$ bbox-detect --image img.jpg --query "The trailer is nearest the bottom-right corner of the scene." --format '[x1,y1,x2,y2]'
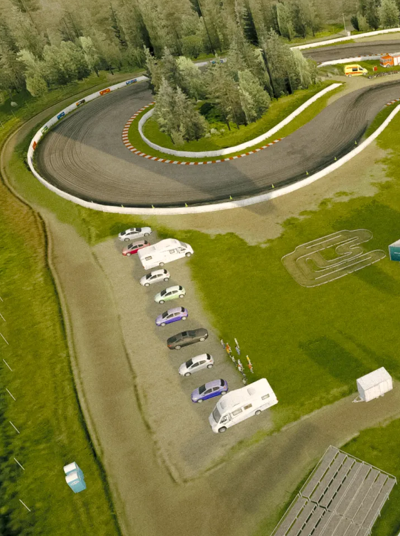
[351,366,394,404]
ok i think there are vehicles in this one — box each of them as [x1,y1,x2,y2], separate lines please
[120,239,151,256]
[141,237,196,266]
[119,228,152,241]
[177,352,216,377]
[155,306,190,326]
[154,284,187,303]
[166,328,208,349]
[190,378,230,403]
[201,381,270,435]
[139,269,172,286]
[345,65,366,77]
[380,53,400,67]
